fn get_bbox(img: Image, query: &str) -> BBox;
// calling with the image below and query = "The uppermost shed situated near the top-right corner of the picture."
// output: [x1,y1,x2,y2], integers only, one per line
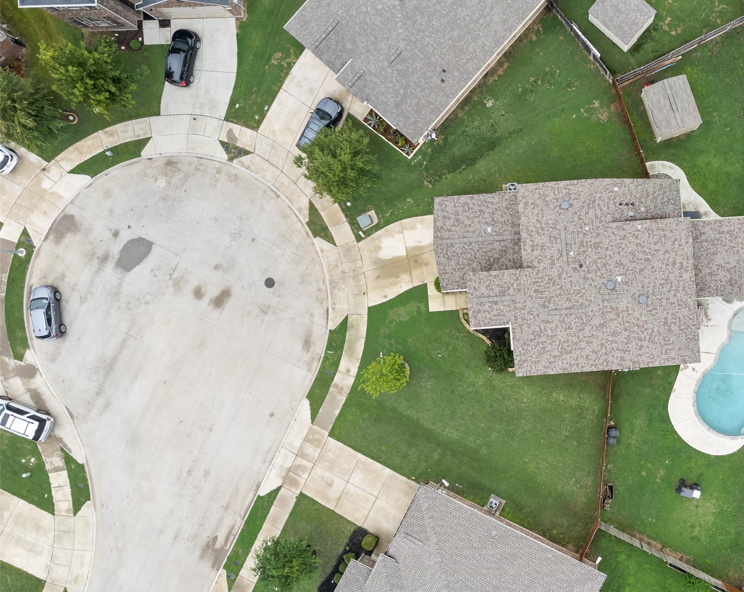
[589,0,656,52]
